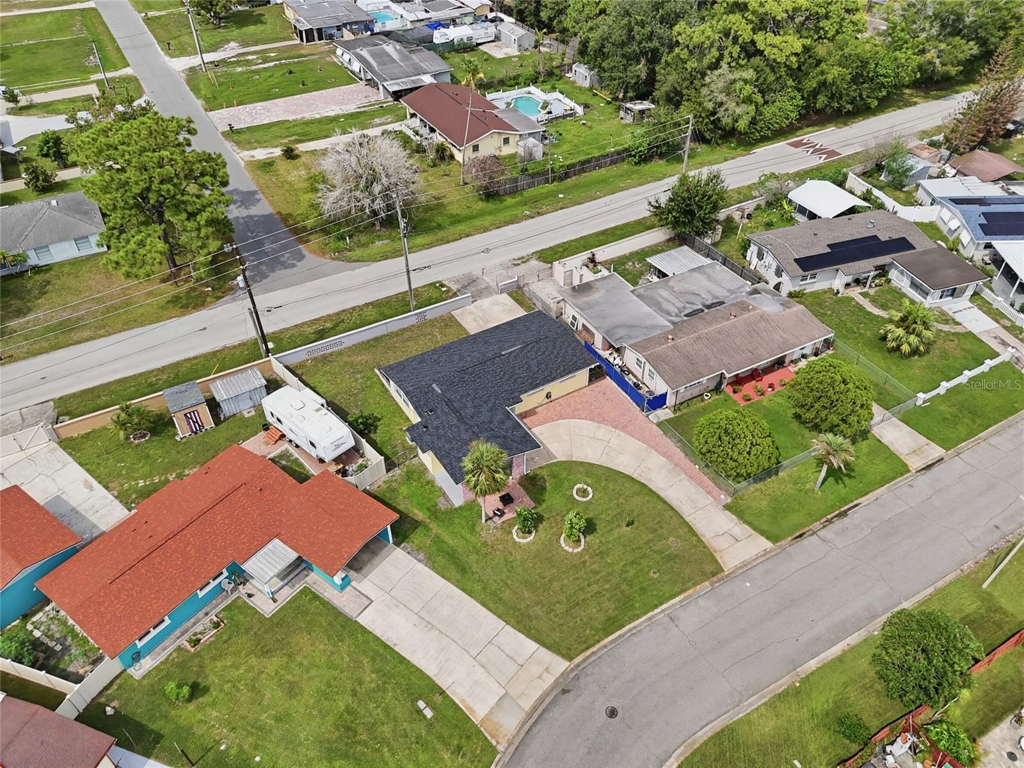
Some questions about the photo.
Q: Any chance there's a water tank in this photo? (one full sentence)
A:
No, there's no water tank here.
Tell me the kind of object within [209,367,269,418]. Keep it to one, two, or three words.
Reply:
shed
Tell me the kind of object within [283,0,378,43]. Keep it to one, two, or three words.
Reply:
house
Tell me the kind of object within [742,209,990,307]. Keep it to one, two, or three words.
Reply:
house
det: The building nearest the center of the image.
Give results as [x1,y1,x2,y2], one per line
[379,311,600,502]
